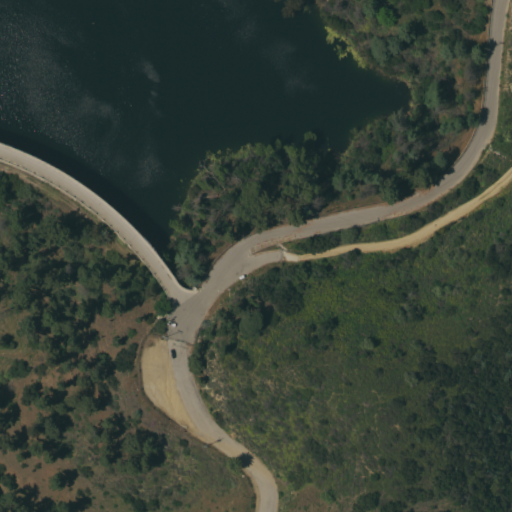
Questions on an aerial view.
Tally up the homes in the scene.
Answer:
0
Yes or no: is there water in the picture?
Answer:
Yes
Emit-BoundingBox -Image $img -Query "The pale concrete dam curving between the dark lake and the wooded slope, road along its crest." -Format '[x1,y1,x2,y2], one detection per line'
[0,144,199,312]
